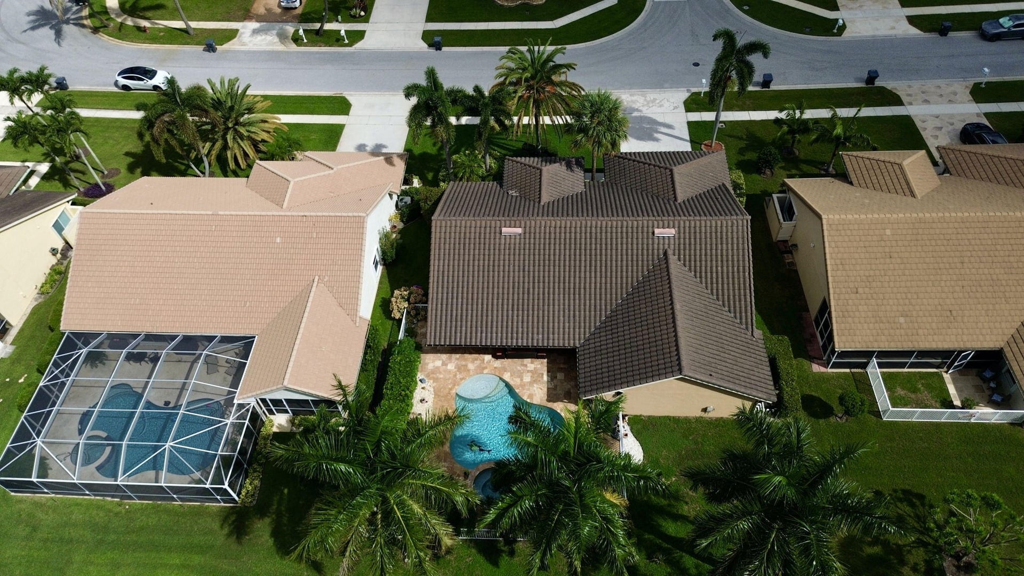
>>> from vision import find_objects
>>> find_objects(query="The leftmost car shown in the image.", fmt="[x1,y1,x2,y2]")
[114,64,174,90]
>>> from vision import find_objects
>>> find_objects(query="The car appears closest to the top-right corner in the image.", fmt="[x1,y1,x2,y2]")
[980,12,1024,40]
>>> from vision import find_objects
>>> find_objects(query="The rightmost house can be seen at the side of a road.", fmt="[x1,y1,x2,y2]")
[754,144,1024,442]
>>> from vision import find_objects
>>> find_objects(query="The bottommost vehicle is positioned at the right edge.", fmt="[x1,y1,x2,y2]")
[974,117,1022,145]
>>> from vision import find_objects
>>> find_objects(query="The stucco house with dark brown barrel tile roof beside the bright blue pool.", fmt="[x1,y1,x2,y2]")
[427,151,776,417]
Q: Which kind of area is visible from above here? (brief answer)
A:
residential area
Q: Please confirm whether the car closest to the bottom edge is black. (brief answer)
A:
Yes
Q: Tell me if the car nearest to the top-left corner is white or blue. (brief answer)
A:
white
